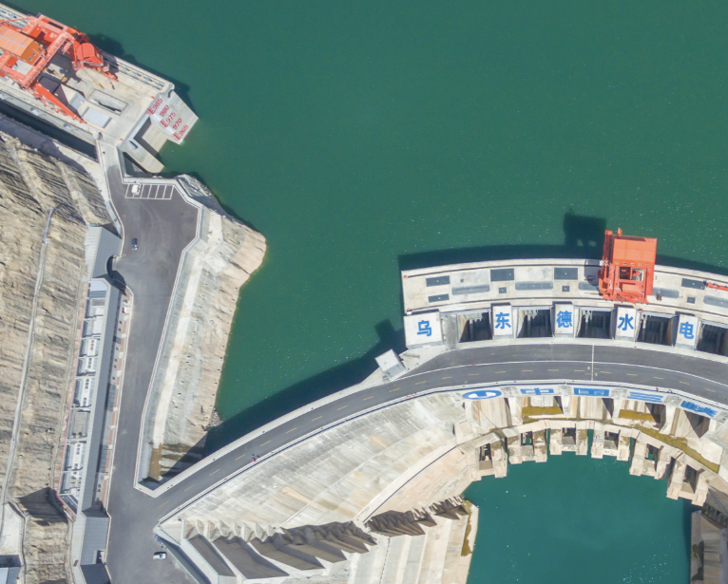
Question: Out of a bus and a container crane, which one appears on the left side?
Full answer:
The one visible on the left side is a container crane.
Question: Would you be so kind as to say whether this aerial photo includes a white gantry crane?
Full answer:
No, I can see no white gantry crane in this picture.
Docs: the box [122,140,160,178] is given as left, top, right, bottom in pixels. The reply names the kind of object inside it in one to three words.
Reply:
pier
